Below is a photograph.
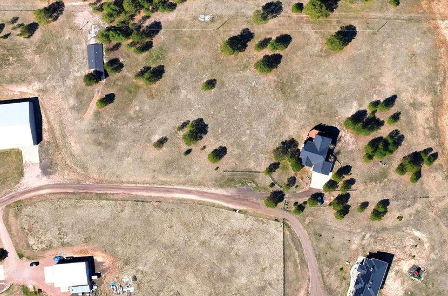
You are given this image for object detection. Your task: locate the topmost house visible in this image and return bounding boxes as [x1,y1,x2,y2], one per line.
[87,44,106,79]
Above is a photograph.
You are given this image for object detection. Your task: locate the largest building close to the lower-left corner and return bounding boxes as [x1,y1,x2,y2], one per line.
[53,260,91,287]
